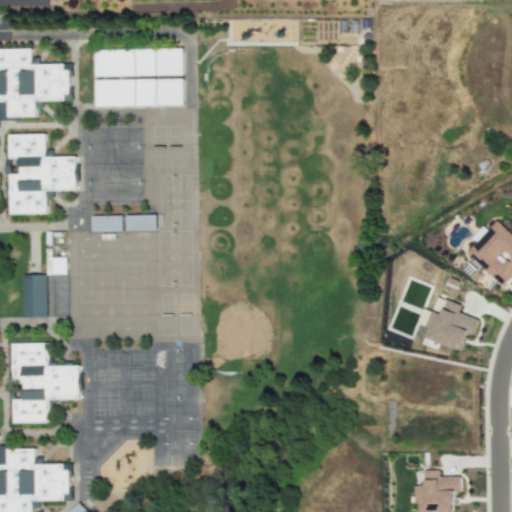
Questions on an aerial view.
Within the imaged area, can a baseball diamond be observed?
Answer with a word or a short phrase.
Yes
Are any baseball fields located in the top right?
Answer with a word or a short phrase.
No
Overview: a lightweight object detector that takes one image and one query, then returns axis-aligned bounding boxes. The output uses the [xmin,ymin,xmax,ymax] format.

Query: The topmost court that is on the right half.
[404,281,430,308]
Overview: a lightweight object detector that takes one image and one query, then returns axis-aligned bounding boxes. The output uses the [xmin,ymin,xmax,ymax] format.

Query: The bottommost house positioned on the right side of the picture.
[414,470,462,512]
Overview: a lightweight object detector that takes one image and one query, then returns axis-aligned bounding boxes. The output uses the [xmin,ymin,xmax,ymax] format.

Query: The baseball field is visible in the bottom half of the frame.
[216,302,272,374]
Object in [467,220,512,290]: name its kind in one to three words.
house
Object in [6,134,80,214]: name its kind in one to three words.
building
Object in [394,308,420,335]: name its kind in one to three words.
sports court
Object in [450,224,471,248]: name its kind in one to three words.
swimming pool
